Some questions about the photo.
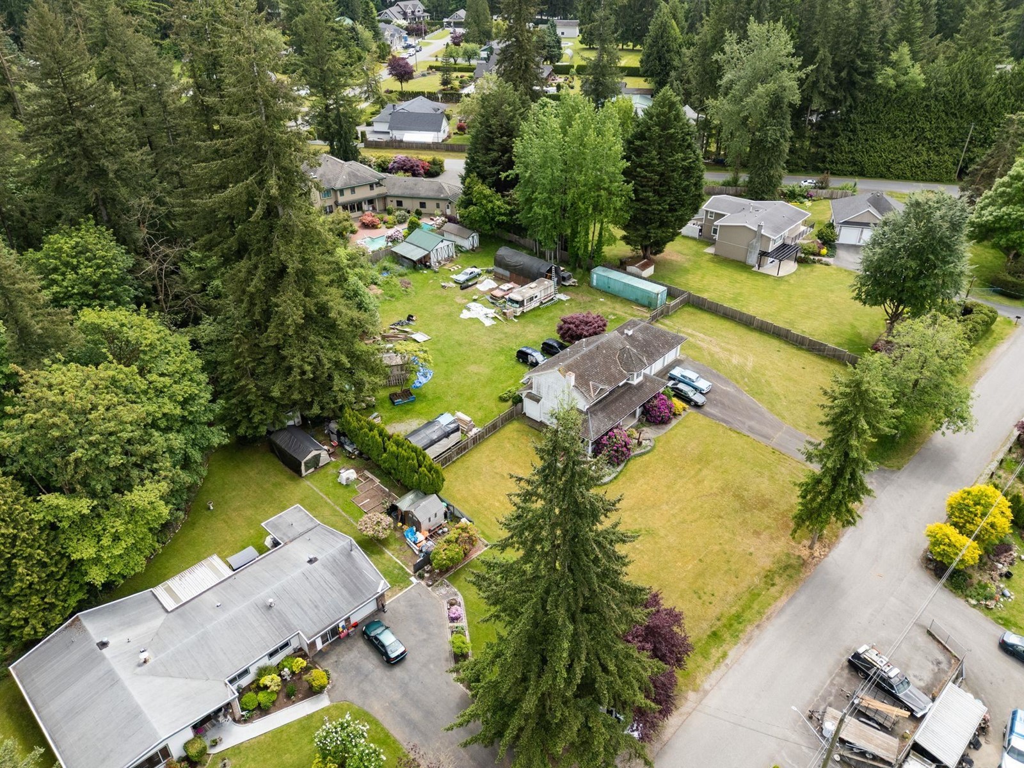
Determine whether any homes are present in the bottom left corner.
Yes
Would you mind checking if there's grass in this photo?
Yes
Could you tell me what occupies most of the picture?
trees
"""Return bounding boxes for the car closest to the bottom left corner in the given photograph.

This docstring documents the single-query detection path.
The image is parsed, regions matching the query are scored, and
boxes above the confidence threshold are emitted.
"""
[364,612,410,664]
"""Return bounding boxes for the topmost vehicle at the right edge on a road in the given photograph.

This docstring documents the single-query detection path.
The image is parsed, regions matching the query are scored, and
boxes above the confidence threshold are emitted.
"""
[980,625,1024,668]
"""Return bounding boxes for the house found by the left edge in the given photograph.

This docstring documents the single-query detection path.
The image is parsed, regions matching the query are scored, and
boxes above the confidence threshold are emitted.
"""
[9,506,391,768]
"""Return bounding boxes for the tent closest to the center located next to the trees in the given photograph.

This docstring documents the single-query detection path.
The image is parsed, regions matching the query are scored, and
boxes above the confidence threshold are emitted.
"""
[260,421,330,475]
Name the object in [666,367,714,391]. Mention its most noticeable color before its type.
white car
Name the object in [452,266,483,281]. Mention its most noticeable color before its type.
white car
